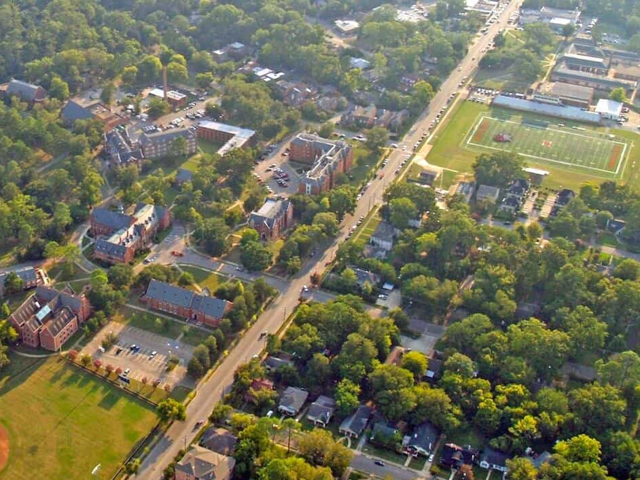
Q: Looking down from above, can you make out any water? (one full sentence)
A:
No, the scene doesn't show any water.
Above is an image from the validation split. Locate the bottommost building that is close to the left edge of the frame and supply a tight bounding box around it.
[7,281,94,350]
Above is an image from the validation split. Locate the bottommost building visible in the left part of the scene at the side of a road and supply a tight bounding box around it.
[174,443,237,480]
